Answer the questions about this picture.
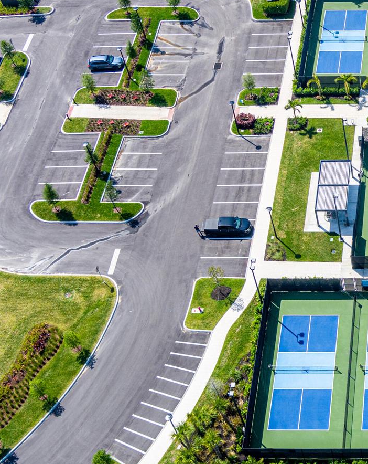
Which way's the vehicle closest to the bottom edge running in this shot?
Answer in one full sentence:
The vehicle closest to the bottom edge runs horizontally in the image.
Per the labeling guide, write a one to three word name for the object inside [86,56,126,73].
car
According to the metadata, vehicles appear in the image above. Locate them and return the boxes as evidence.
[86,56,126,73]
[200,217,254,238]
